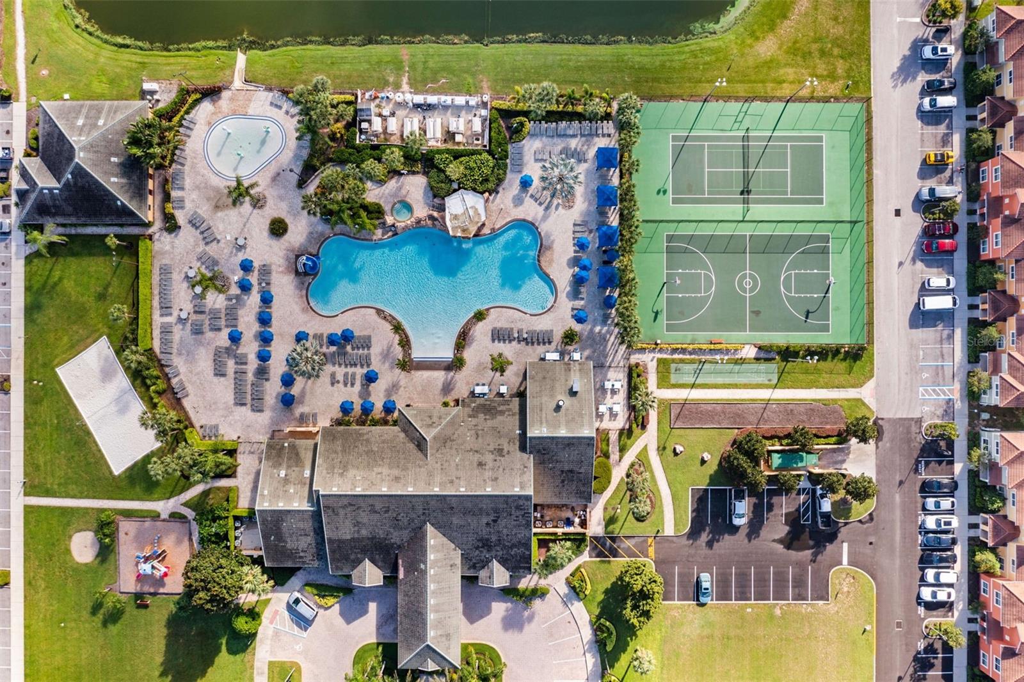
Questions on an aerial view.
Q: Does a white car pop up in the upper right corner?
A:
Yes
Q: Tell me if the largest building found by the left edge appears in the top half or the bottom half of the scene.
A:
top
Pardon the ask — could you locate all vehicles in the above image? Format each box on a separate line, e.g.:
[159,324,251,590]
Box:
[921,185,956,200]
[732,486,748,524]
[924,150,955,165]
[921,239,957,254]
[288,591,317,621]
[918,294,959,311]
[920,95,956,111]
[923,479,957,494]
[923,221,957,237]
[697,572,712,604]
[920,44,955,60]
[923,569,957,585]
[923,275,955,290]
[919,587,954,603]
[921,552,956,567]
[923,515,958,531]
[923,77,956,93]
[923,534,957,549]
[815,490,832,530]
[923,497,956,512]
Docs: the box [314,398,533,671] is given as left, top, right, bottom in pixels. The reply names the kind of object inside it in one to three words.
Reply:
building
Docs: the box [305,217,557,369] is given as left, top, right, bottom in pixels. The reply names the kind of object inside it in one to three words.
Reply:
swimming pool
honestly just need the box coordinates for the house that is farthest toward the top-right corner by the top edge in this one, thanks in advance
[977,5,1024,73]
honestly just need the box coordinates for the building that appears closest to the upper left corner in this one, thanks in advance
[5,101,155,223]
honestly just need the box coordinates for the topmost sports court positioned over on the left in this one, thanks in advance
[55,337,161,475]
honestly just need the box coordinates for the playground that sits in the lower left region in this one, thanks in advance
[116,519,191,595]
